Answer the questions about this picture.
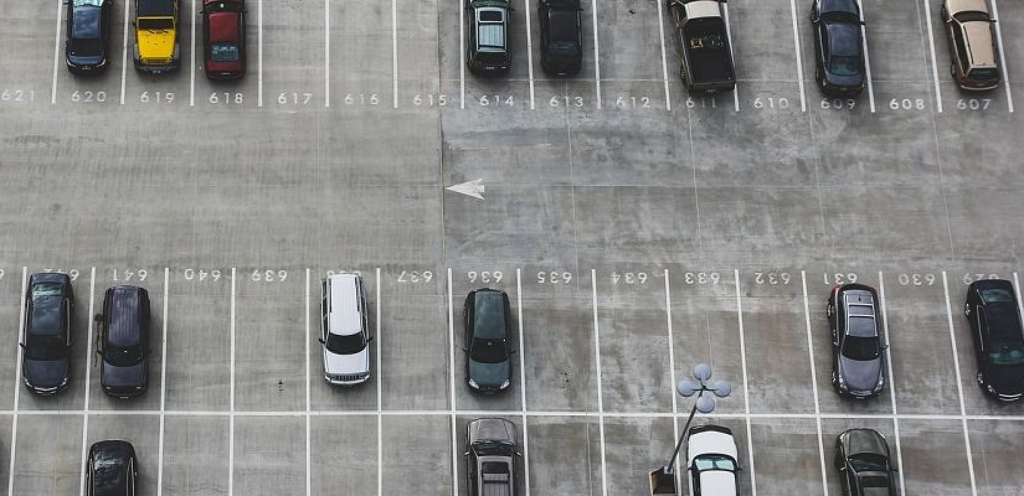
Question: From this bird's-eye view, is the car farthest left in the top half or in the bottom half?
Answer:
bottom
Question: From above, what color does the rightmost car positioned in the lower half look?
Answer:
black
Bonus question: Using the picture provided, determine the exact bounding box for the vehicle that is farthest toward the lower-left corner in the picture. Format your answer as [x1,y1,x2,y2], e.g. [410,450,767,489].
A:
[87,442,138,496]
